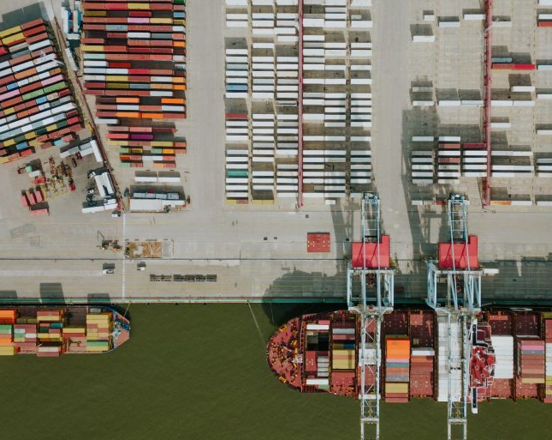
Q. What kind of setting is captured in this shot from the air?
port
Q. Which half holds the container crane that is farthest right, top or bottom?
bottom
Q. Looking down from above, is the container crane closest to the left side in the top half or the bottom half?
bottom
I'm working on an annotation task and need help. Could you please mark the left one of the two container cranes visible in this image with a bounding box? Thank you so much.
[338,193,397,440]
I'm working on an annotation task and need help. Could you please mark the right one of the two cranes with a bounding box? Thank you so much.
[416,194,499,440]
